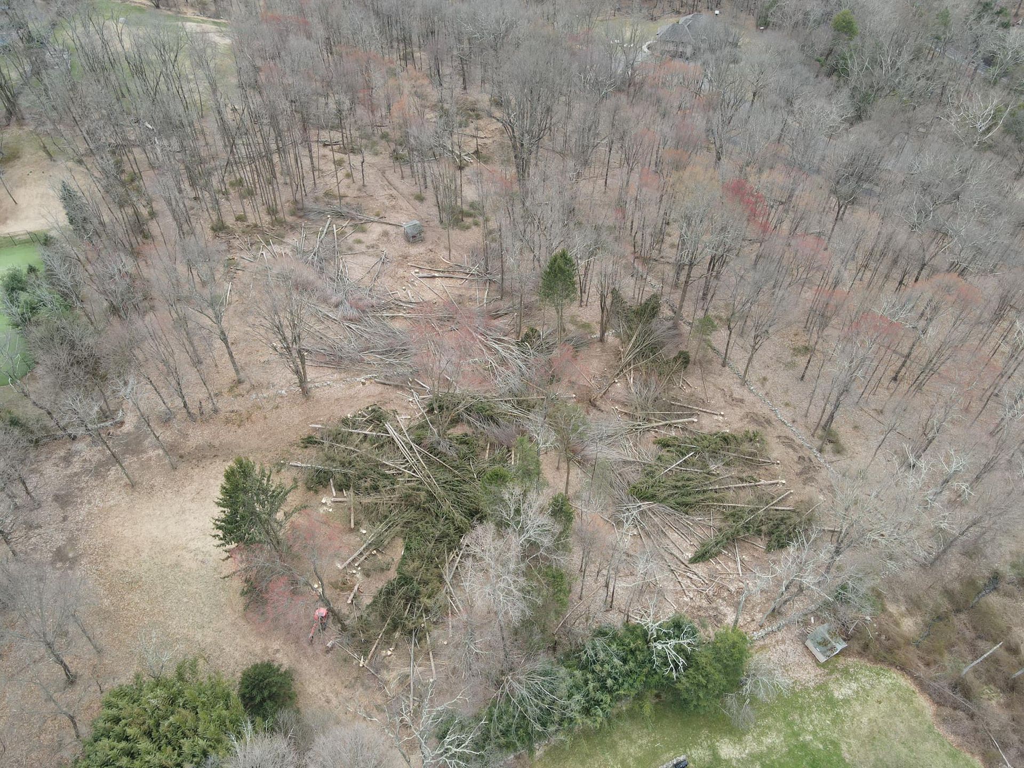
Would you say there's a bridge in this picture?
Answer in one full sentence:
No, there is no bridge in the image.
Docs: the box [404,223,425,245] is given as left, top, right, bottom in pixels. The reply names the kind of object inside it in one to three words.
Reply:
shed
